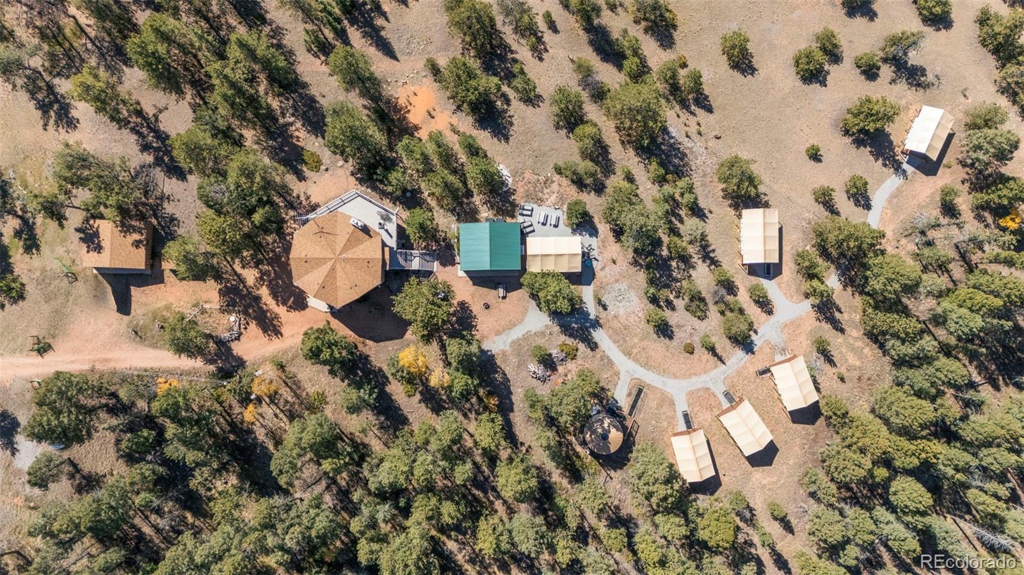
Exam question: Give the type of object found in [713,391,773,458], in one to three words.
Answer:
tent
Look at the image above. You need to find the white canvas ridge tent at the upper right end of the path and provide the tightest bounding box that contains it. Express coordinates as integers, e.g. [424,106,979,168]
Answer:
[892,105,954,166]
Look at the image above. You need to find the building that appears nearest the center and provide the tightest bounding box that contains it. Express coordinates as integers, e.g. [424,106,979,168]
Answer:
[460,222,524,276]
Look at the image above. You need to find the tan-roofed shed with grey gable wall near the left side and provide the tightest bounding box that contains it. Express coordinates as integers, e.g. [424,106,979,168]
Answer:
[84,219,152,268]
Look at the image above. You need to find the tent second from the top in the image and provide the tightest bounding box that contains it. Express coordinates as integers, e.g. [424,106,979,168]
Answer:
[733,208,779,276]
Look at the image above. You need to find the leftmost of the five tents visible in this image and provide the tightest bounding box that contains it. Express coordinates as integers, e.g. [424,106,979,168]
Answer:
[670,413,716,483]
